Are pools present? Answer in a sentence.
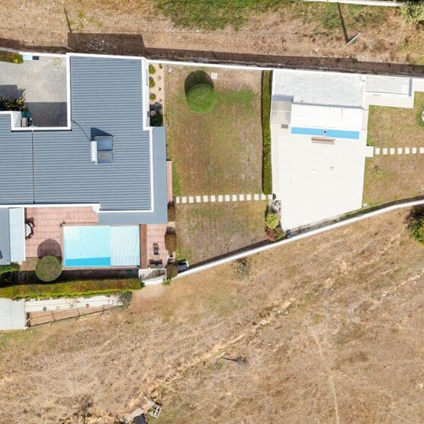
Yes, a pool is visible in the scene.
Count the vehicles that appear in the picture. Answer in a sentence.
No vehicles are visible.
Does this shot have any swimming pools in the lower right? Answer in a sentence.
No, there's no swimming pool to be seen in the lower right.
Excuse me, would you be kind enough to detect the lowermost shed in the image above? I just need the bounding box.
[0,297,31,330]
